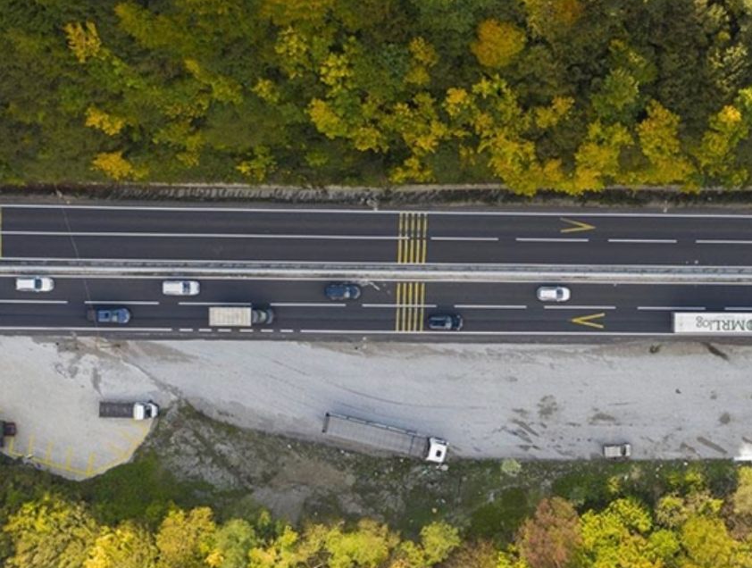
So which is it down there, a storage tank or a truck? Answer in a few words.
truck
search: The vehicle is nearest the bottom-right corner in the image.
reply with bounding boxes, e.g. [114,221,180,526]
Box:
[602,442,629,458]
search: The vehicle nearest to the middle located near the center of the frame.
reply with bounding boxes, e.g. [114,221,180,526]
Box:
[325,283,360,300]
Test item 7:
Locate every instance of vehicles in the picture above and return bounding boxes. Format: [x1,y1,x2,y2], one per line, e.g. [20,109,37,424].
[209,306,277,326]
[87,307,131,325]
[602,442,629,458]
[675,312,752,334]
[163,280,200,297]
[322,413,449,465]
[19,277,55,293]
[427,315,462,331]
[537,286,570,302]
[325,283,360,300]
[99,399,162,421]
